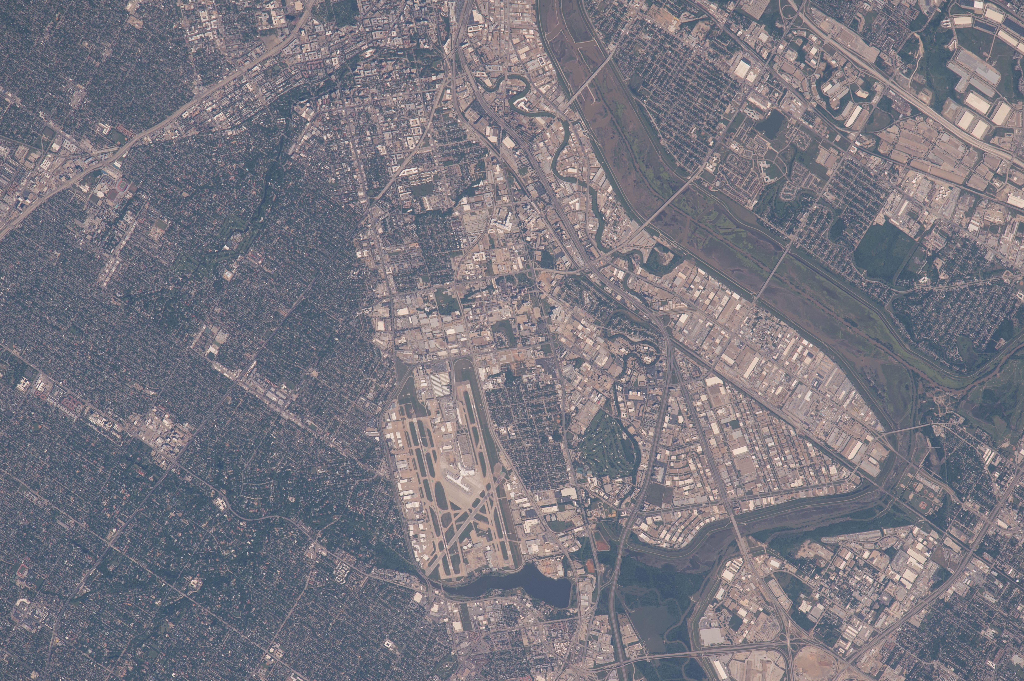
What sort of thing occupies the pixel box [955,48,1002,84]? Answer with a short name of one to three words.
building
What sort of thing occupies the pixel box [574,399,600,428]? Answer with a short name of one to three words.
building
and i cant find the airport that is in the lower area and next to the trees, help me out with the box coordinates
[384,359,522,581]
